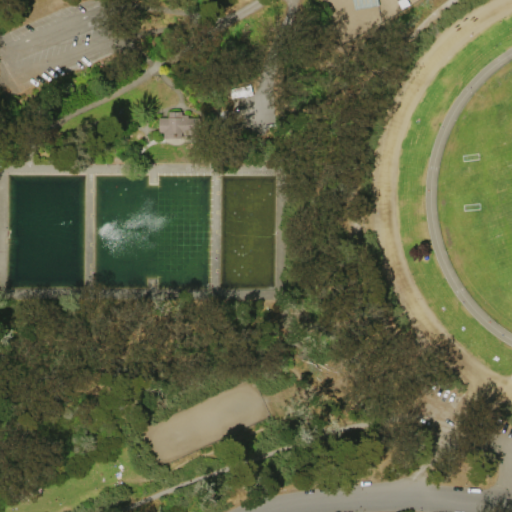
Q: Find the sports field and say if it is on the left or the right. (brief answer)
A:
right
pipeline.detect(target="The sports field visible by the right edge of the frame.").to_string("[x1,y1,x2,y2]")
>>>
[436,58,512,334]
